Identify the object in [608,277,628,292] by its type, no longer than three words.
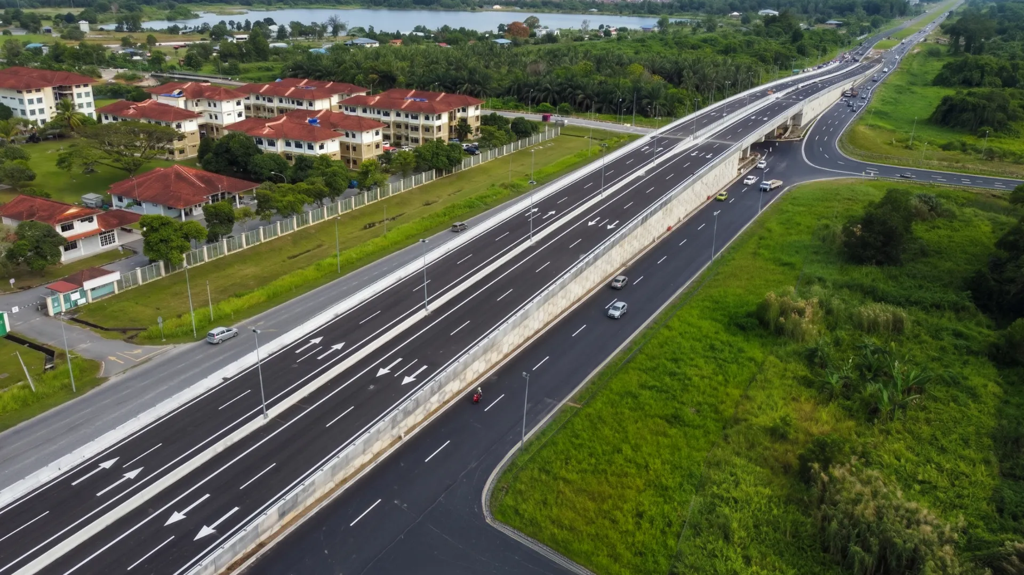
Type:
car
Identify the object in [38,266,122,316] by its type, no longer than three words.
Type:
building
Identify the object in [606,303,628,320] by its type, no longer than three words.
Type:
car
